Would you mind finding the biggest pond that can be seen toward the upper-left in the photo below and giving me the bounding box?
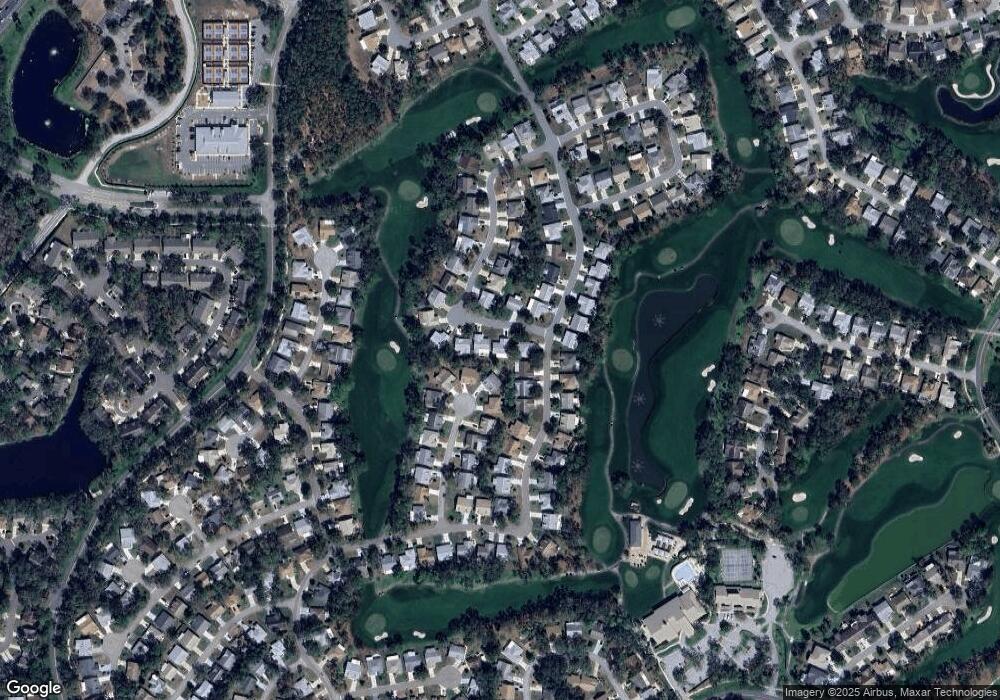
[12,11,87,158]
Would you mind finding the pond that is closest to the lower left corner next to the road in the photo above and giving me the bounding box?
[0,359,107,499]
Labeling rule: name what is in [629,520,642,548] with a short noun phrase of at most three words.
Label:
barn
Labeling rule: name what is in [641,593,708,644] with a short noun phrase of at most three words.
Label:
building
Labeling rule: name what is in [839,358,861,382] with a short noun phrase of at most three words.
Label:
house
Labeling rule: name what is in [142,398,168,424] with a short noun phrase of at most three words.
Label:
house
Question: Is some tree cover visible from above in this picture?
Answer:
Yes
